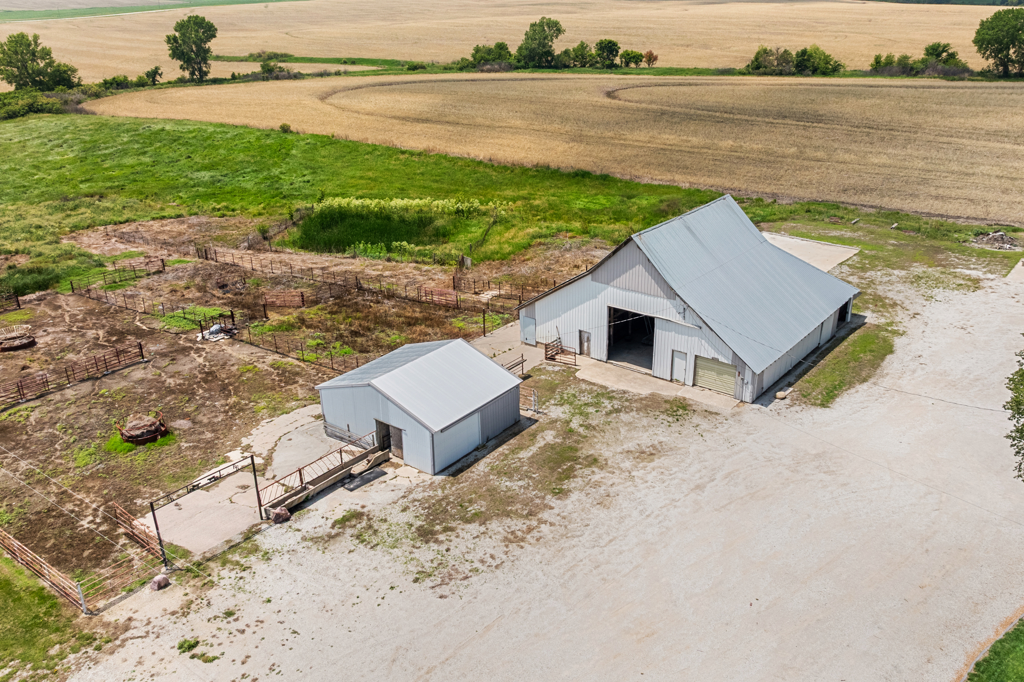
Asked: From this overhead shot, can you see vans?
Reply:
No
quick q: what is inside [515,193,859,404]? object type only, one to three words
barn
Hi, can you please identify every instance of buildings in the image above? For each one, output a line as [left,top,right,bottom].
[314,337,524,476]
[515,193,859,404]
